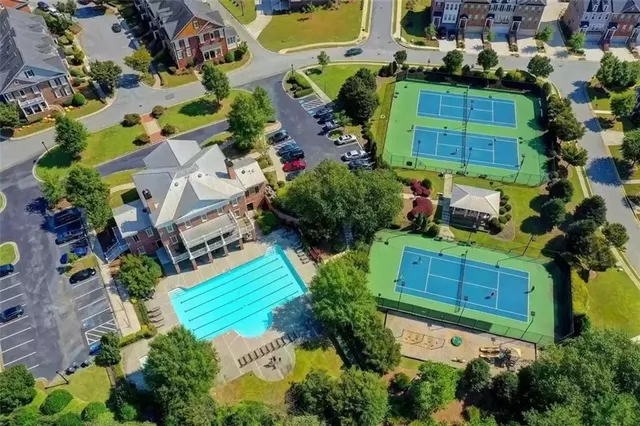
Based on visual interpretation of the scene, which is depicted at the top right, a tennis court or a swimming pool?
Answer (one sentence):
The feature located at the top right is a tennis court.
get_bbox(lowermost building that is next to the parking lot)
[112,138,271,267]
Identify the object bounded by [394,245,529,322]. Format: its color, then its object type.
blue tennis court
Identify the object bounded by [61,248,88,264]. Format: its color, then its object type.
blue car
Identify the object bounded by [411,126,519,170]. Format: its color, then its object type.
blue tennis court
